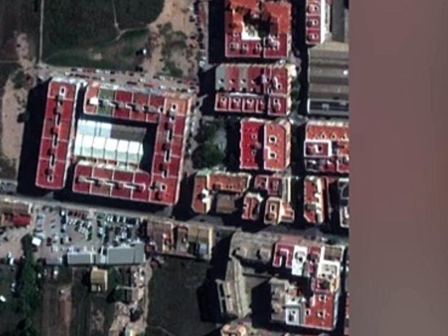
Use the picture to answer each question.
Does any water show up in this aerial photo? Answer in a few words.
No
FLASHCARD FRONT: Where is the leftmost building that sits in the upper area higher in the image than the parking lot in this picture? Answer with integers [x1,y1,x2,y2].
[36,74,81,189]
